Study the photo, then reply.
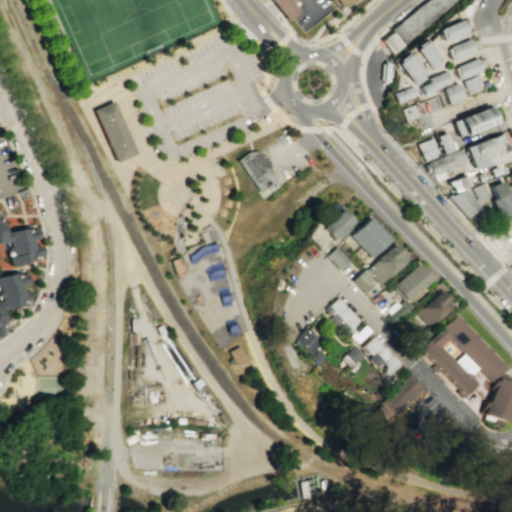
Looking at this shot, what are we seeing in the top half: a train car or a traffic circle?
traffic circle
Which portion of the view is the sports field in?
top left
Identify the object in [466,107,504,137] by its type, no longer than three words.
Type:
building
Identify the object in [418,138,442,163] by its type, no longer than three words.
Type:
house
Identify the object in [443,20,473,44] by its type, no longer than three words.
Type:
house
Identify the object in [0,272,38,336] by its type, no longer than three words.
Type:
building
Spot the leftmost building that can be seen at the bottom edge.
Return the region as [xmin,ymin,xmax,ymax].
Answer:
[296,474,330,500]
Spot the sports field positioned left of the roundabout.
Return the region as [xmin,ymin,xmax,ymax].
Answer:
[52,0,224,83]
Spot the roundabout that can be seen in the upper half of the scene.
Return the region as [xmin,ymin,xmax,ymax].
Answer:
[270,43,356,127]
